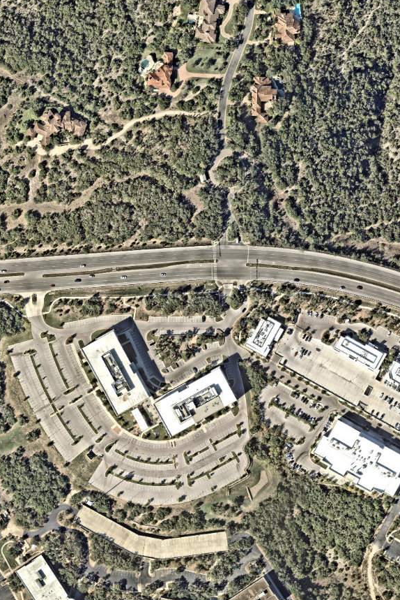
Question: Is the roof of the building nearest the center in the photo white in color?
Yes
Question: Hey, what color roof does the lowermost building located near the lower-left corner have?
white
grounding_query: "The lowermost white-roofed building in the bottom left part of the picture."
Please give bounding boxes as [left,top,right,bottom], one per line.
[15,554,74,600]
